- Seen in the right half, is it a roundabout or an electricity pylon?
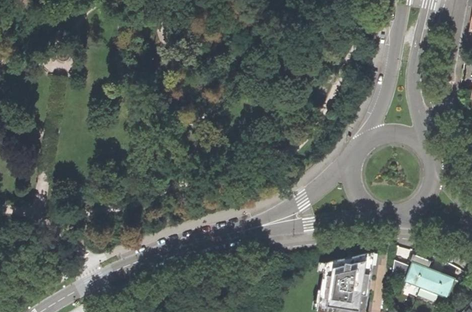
roundabout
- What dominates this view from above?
trees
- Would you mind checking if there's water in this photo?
No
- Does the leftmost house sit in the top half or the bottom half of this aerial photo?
bottom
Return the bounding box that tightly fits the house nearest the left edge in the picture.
[312,252,378,312]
